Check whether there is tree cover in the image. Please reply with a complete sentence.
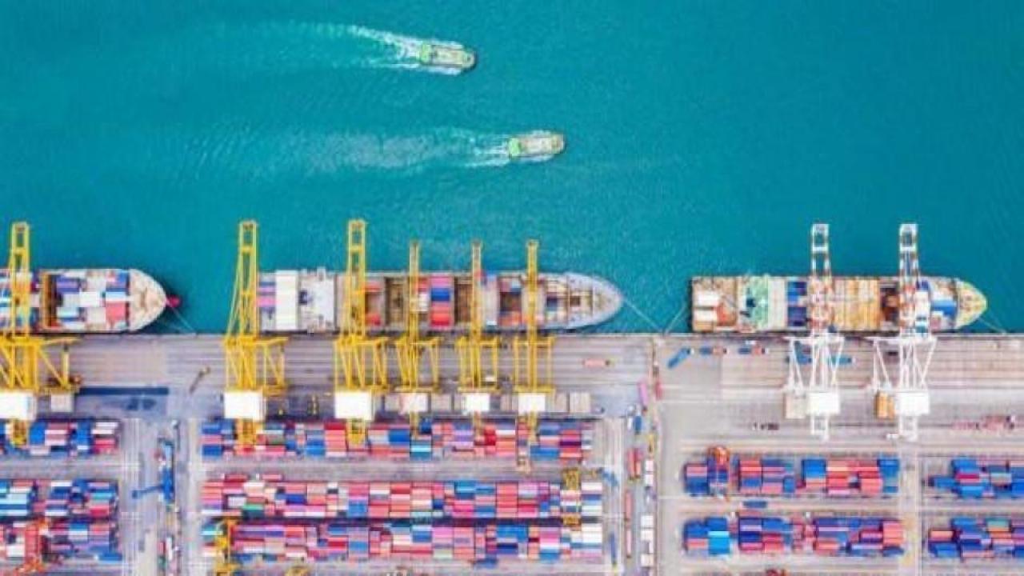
No, tree cover can't be seen anywhere here.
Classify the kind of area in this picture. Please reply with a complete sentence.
The picture captures a port.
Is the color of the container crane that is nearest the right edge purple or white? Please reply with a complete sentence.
The container crane that is nearest the right edge is white.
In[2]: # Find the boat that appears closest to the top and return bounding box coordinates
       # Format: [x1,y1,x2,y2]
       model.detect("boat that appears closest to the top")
[420,42,476,70]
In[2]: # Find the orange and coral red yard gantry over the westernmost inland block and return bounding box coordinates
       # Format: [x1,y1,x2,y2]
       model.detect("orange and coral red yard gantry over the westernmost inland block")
[22,511,60,573]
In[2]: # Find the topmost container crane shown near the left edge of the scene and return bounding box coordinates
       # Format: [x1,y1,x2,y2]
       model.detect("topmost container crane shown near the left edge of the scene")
[0,221,81,446]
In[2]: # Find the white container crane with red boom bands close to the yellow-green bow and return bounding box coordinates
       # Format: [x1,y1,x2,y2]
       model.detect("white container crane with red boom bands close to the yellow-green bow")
[863,223,940,441]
